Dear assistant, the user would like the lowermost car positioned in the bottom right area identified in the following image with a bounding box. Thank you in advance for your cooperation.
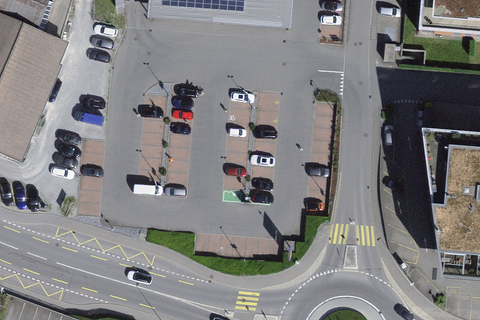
[393,304,415,320]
